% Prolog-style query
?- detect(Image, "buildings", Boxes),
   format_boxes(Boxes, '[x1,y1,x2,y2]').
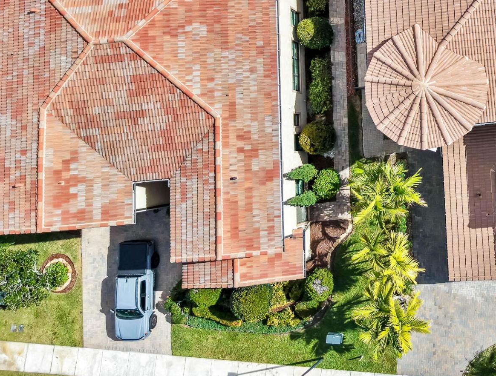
[0,0,313,289]
[361,0,496,280]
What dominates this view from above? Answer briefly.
buildings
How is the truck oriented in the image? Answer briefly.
from top to bottom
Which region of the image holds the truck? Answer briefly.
bottom left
